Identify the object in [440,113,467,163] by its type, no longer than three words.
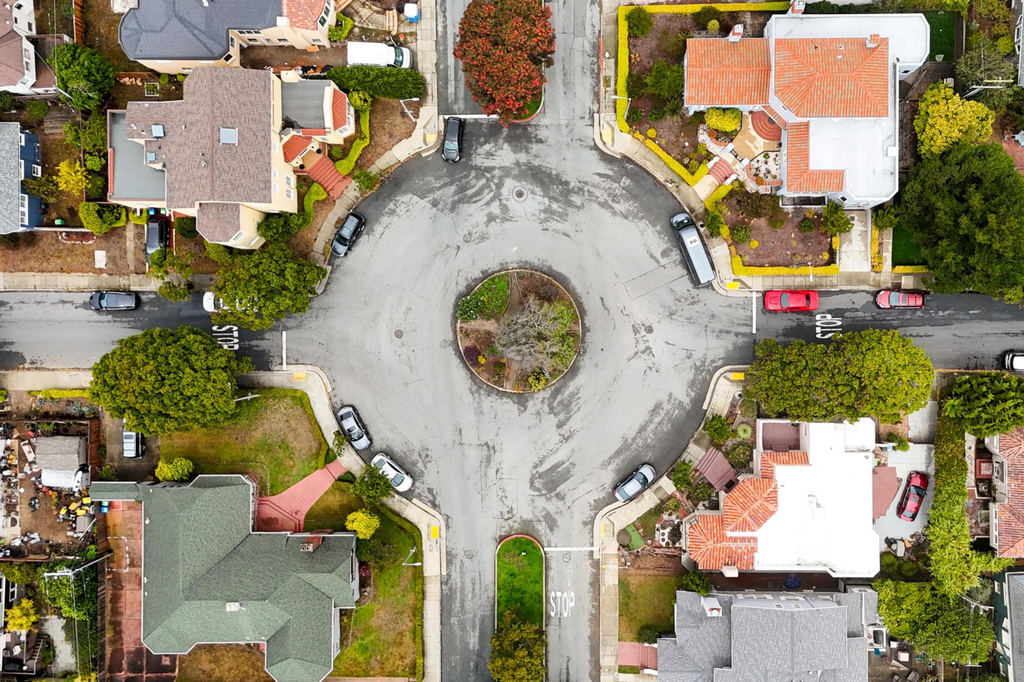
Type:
car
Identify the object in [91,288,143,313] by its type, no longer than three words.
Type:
car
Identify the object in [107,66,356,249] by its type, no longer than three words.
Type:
house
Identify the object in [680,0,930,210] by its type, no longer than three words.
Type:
house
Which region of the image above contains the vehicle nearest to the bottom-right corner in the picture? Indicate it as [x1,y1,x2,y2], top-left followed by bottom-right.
[892,468,928,523]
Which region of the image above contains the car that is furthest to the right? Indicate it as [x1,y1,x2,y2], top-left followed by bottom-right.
[997,350,1024,371]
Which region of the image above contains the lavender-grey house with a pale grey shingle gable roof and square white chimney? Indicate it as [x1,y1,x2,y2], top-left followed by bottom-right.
[652,579,889,682]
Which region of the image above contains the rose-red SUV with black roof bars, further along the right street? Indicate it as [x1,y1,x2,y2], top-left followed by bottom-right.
[872,287,924,312]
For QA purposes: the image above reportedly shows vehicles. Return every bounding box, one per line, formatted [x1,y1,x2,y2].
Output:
[872,287,924,312]
[203,289,236,314]
[665,212,718,287]
[144,214,173,265]
[331,208,369,258]
[345,34,414,74]
[761,288,817,313]
[91,288,143,313]
[892,468,928,523]
[119,424,149,466]
[611,460,658,504]
[336,403,373,451]
[997,350,1024,371]
[440,113,467,163]
[370,448,415,493]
